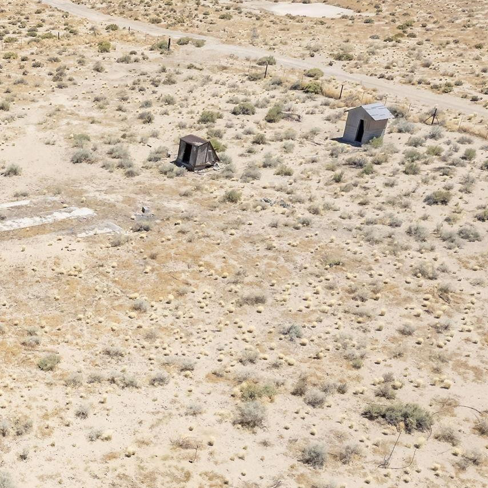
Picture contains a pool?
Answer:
No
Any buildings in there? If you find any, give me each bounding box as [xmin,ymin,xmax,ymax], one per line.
[343,106,393,145]
[177,136,218,168]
